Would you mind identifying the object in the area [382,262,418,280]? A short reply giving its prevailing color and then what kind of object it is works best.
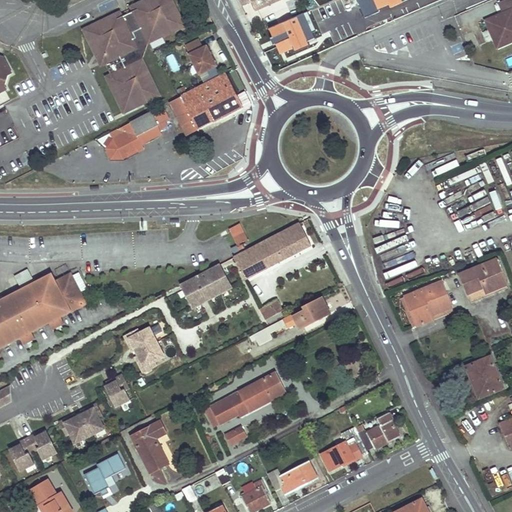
white vehicle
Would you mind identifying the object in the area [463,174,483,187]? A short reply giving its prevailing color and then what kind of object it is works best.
white vehicle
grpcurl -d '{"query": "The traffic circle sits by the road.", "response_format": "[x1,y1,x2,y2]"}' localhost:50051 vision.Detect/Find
[141,21,430,256]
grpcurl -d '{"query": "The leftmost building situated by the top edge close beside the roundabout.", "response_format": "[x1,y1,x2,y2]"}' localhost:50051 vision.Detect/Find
[82,0,184,114]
